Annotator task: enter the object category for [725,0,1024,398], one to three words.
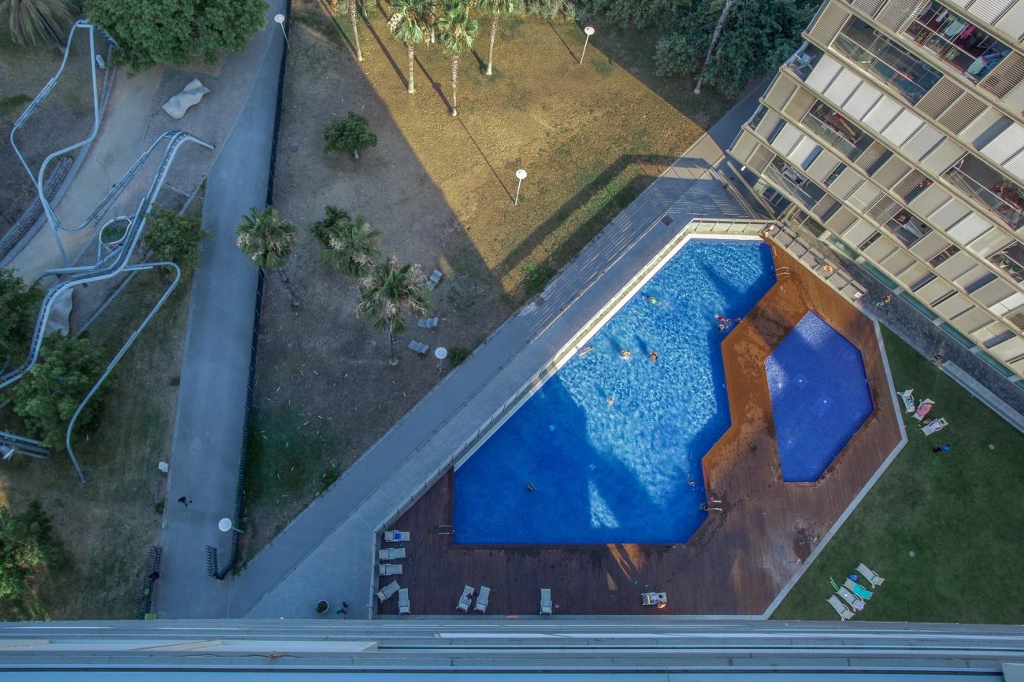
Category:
building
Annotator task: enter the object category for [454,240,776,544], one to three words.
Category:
swimming pool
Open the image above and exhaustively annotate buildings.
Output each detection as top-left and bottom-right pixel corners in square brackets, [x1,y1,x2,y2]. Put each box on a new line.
[725,0,1024,398]
[0,619,1024,682]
